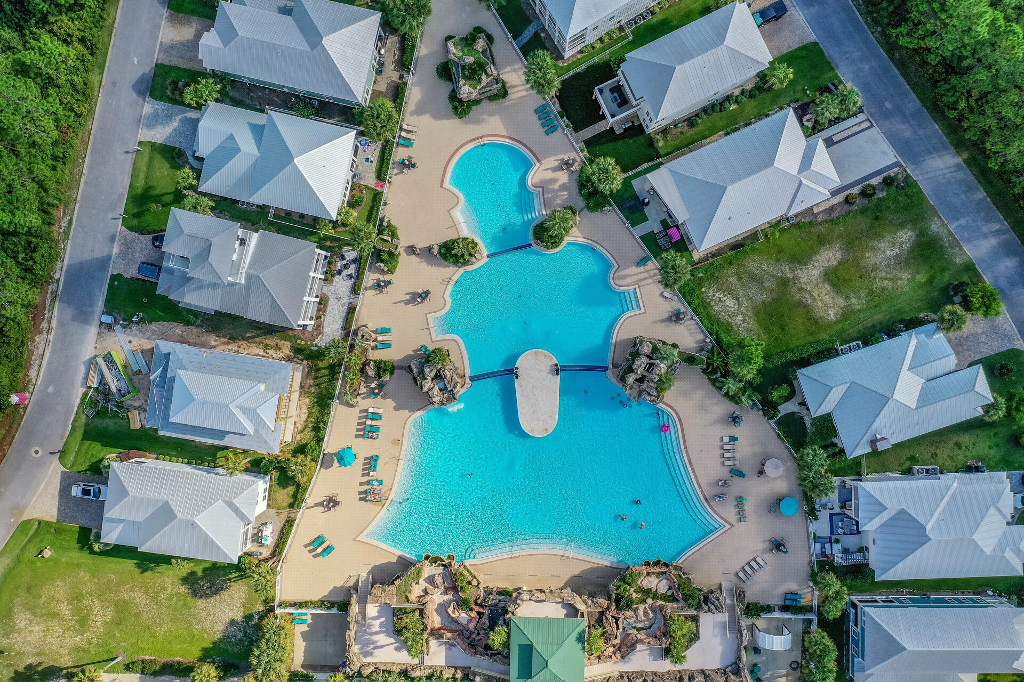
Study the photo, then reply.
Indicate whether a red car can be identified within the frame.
No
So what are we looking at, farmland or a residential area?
residential area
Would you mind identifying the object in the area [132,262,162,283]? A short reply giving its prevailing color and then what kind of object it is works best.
blue car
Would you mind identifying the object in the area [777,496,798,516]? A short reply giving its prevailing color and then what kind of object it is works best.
blue umbrella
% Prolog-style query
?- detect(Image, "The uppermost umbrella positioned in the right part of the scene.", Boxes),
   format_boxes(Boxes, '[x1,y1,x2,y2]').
[762,457,783,478]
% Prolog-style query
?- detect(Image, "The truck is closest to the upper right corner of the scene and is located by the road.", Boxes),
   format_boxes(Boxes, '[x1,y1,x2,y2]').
[751,0,795,26]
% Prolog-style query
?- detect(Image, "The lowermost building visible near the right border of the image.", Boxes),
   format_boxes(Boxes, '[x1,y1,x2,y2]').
[846,595,1024,682]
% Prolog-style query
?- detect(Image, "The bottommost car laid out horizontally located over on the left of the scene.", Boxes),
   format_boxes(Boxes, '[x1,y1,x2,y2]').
[66,483,108,502]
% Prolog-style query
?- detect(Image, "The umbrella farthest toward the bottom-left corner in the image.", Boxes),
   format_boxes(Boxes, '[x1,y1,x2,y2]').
[336,446,357,467]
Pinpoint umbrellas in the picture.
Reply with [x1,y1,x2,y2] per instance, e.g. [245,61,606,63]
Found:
[762,457,783,478]
[777,496,798,516]
[336,446,357,467]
